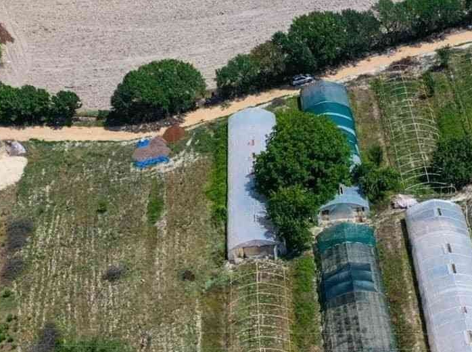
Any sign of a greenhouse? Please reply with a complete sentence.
Yes, looking at the shot, I can spot a greenhouse.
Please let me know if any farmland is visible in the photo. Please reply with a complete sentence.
Yes, there is farmland in the image.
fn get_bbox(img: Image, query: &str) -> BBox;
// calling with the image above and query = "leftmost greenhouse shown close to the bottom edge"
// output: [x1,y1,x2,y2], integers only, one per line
[318,223,395,352]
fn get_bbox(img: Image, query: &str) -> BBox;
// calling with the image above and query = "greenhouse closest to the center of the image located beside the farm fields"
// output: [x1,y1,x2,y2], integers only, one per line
[231,108,292,262]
